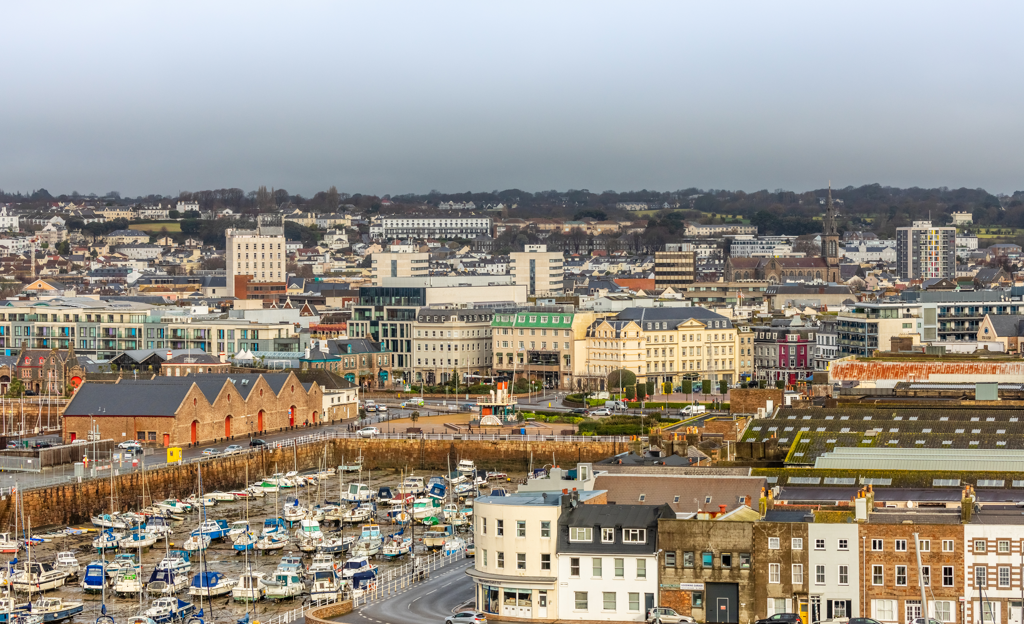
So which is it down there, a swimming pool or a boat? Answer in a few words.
boat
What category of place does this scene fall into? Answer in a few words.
residential area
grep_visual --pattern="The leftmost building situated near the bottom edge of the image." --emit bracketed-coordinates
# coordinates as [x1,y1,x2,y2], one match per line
[462,486,563,616]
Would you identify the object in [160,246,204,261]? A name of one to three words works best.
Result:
house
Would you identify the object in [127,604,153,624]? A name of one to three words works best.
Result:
boat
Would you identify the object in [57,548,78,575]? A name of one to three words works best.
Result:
boat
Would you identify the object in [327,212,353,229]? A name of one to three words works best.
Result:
house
